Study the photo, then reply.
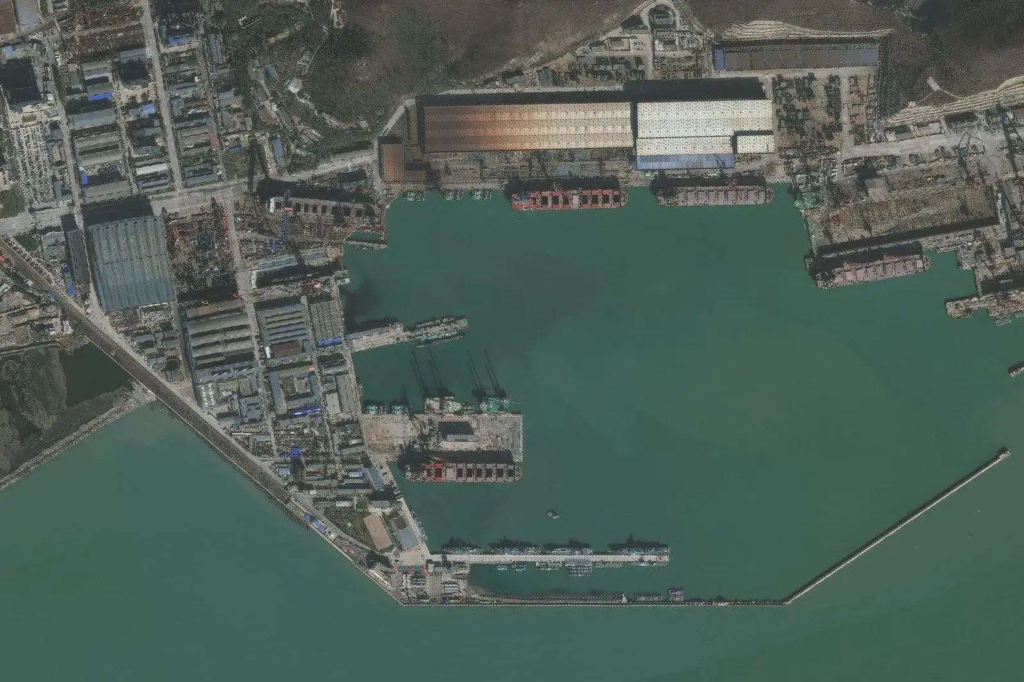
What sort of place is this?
port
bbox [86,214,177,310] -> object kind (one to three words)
building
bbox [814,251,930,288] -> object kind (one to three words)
ship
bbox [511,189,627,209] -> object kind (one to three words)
ship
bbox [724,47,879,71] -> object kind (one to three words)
shed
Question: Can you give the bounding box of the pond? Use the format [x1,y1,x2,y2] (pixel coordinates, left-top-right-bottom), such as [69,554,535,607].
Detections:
[59,339,134,407]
